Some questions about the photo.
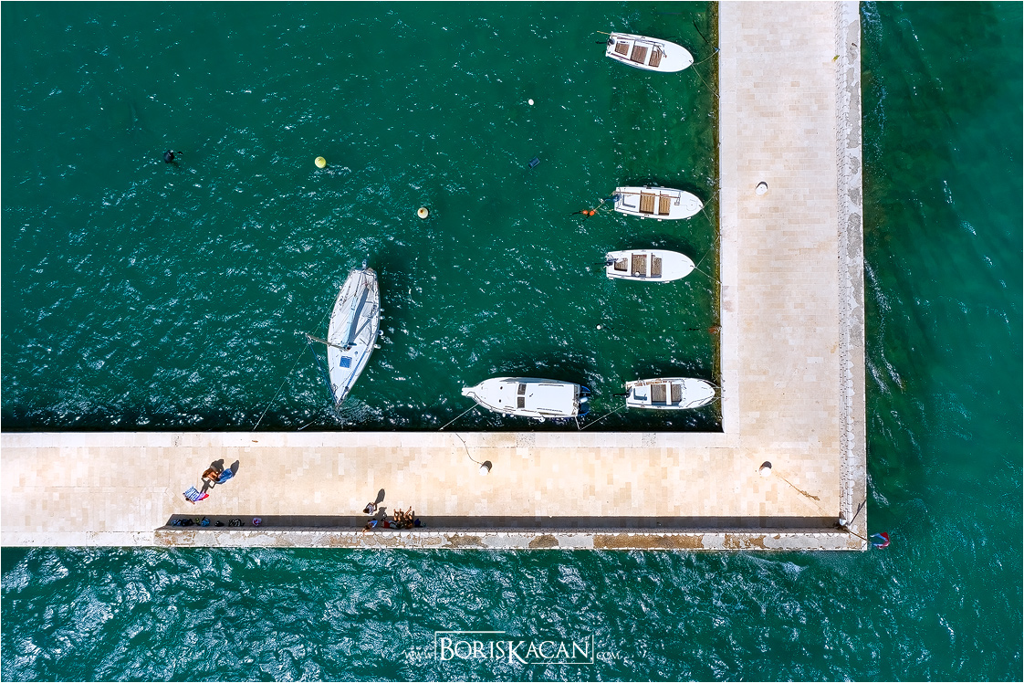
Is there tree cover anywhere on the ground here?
No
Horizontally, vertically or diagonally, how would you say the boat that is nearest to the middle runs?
horizontally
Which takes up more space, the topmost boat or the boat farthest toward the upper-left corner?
the boat farthest toward the upper-left corner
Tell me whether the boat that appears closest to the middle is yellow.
No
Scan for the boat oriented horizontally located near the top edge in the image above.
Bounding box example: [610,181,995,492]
[594,29,693,73]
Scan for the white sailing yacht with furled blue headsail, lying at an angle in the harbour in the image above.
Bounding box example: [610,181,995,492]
[302,261,381,407]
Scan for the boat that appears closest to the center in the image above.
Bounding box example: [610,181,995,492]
[461,377,594,425]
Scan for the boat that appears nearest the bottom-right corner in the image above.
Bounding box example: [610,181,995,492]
[610,376,720,410]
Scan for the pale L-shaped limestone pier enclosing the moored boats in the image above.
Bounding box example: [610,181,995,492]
[0,0,840,547]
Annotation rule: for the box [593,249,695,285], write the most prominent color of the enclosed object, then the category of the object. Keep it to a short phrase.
white boat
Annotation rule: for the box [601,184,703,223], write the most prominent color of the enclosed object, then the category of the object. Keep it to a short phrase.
white boat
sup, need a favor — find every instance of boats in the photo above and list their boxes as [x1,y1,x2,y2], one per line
[593,249,695,285]
[302,261,381,407]
[461,377,594,425]
[610,376,720,410]
[594,29,693,73]
[601,184,703,223]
